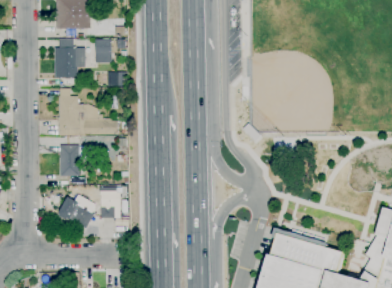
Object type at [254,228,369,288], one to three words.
building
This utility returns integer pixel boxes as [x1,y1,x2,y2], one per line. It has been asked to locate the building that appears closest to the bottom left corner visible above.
[56,192,98,226]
